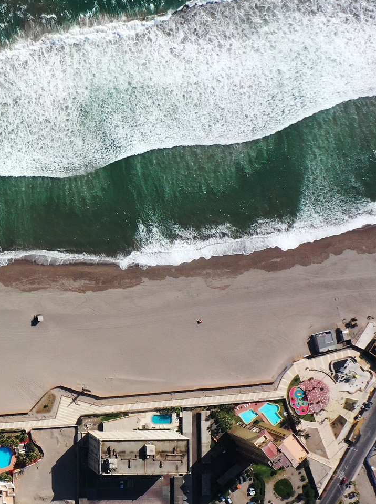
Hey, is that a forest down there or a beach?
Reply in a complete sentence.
It's a beach.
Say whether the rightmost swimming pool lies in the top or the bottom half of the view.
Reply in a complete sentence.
It is in the bottom half that the rightmost swimming pool appears.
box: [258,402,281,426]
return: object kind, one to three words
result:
swimming pool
